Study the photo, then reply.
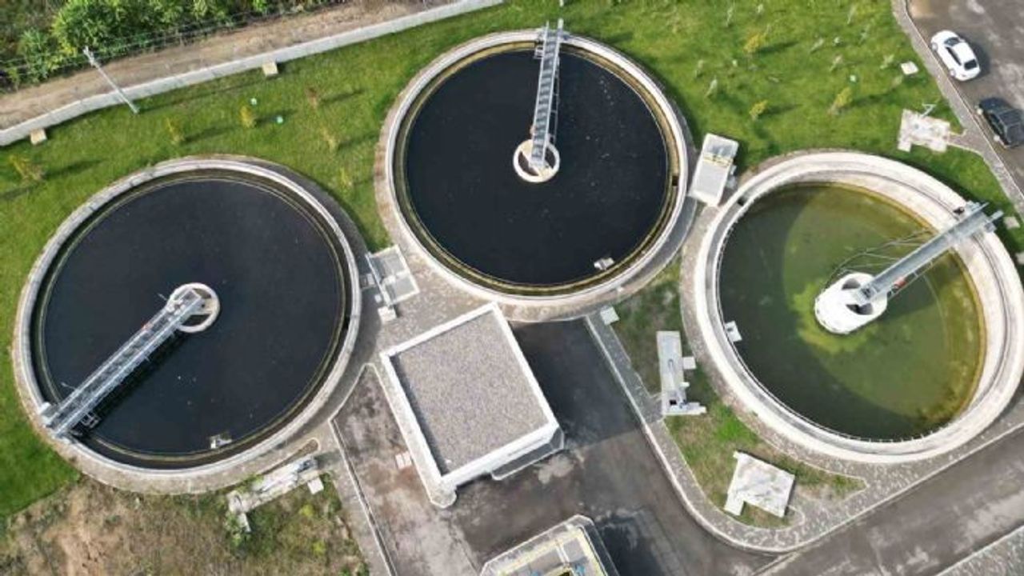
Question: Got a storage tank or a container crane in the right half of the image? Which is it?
storage tank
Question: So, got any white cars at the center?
No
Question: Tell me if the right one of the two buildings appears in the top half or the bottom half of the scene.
bottom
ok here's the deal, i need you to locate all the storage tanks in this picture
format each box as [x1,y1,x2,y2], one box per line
[382,32,688,307]
[21,160,363,479]
[690,151,1024,464]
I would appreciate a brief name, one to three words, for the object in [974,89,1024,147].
car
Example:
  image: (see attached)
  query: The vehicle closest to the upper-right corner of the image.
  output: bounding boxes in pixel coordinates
[930,29,979,80]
